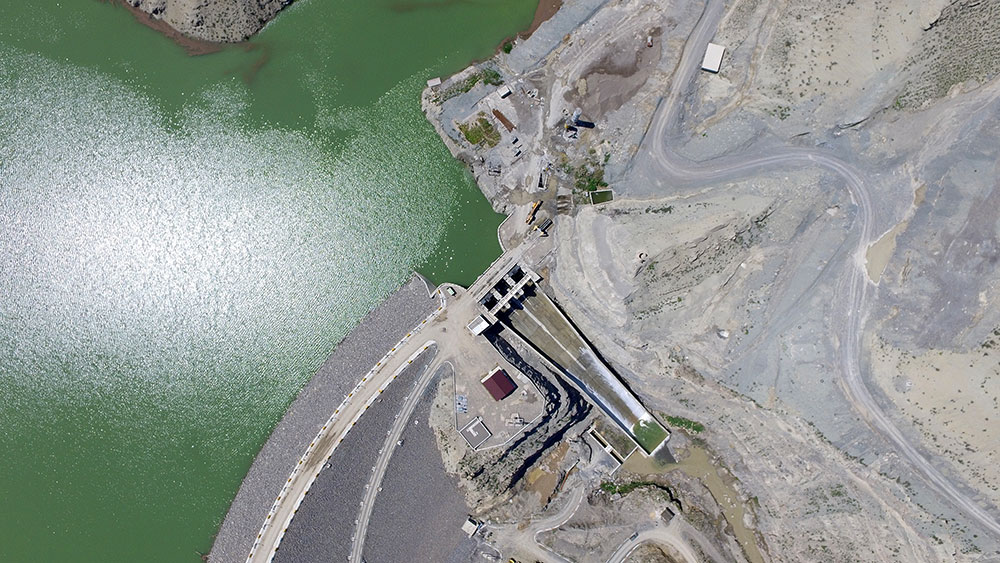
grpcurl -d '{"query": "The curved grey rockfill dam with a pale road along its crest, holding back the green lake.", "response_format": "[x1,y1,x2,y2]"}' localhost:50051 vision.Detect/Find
[205,273,476,563]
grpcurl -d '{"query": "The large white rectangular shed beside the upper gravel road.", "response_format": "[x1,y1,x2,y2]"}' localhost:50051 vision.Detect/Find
[699,43,725,74]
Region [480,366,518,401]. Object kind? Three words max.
house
